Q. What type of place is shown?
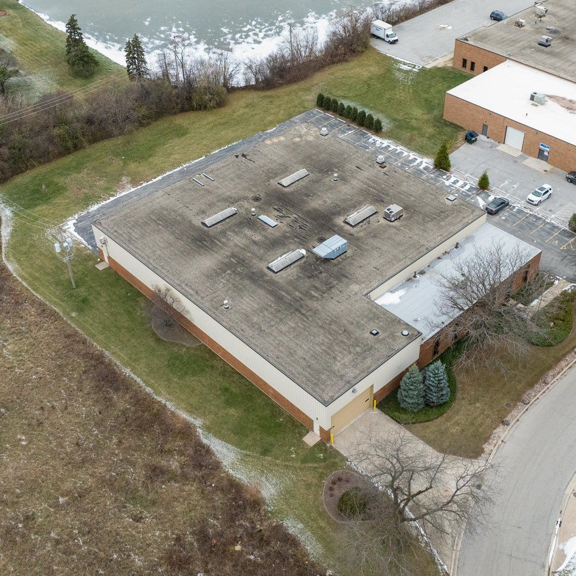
industrial area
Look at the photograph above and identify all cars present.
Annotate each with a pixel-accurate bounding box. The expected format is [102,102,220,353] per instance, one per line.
[488,7,506,19]
[526,182,552,205]
[485,197,512,216]
[563,170,576,184]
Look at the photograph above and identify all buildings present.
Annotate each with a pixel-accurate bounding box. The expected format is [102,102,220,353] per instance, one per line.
[443,0,576,172]
[90,120,540,451]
